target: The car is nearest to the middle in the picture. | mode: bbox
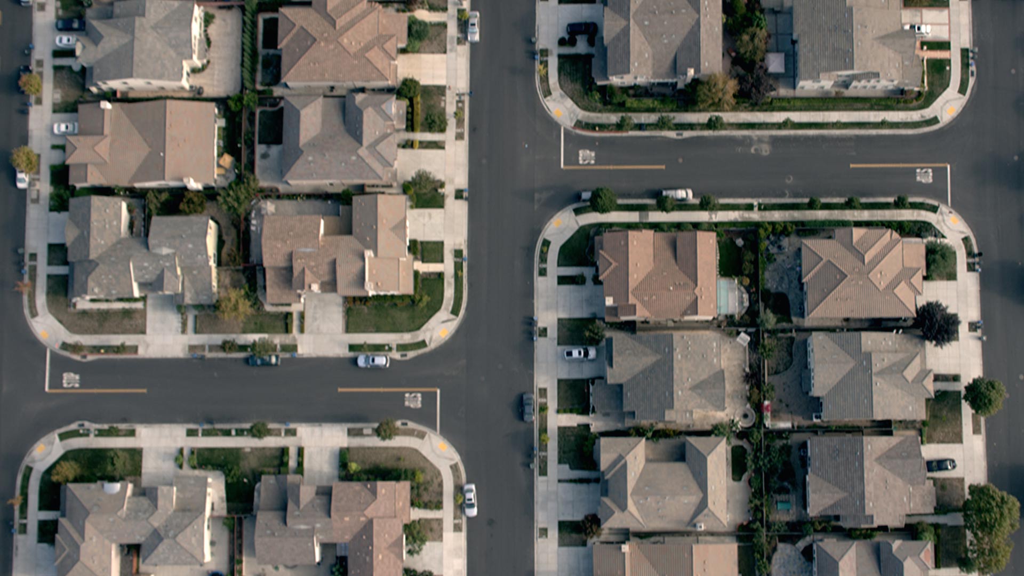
[565,346,594,361]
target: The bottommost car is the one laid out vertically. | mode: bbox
[462,485,476,516]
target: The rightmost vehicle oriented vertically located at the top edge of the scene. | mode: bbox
[466,13,480,42]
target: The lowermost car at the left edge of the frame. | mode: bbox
[15,166,29,191]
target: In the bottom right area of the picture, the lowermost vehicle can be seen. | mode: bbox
[928,459,957,473]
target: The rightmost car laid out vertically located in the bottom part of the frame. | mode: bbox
[521,392,535,422]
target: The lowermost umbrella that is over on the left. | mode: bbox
[261,201,275,214]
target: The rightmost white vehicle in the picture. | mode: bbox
[904,20,933,35]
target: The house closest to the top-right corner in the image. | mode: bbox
[792,0,923,93]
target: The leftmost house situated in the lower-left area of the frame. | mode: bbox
[52,476,215,576]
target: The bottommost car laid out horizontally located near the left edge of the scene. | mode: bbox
[51,121,78,134]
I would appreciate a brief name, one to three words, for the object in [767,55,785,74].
gazebo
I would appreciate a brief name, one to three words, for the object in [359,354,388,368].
car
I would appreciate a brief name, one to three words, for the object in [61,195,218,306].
house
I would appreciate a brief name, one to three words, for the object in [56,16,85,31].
car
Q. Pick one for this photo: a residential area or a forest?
residential area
